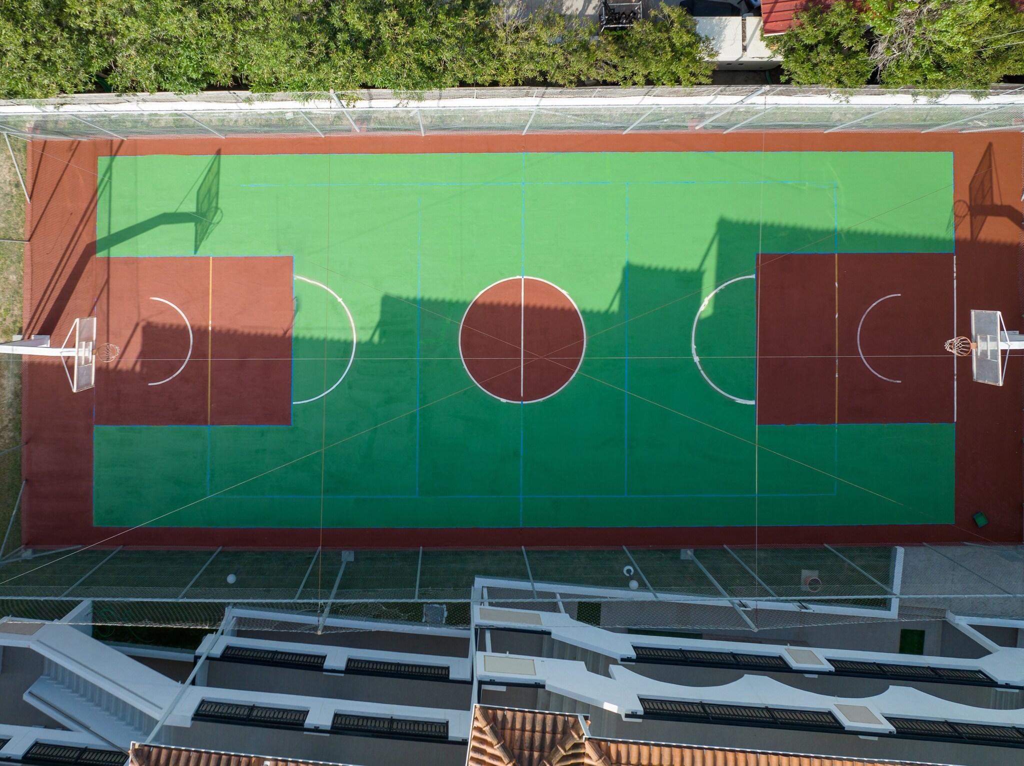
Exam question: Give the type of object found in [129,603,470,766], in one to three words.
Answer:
house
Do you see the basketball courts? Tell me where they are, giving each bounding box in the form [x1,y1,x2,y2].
[19,127,1024,555]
